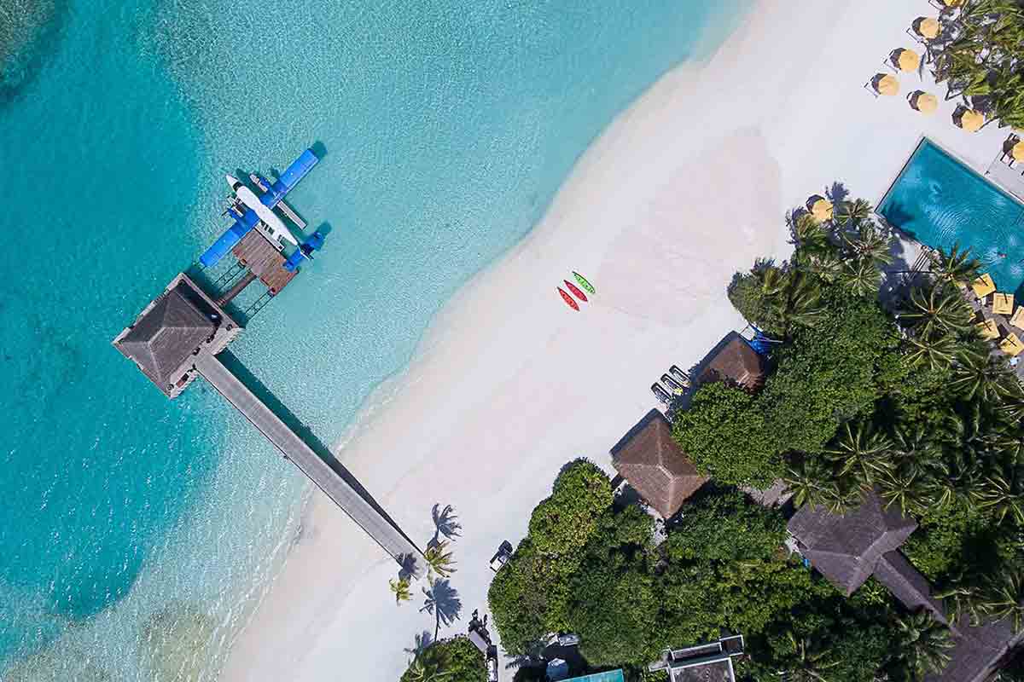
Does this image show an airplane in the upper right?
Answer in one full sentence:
No, no airplane can be made out in the upper right.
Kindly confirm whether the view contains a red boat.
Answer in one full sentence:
Yes, looking at the shot, I can spot a red boat.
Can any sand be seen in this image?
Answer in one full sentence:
Yes, there's sand in this view.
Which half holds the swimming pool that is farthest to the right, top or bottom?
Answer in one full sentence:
The top half of the photo is where the swimming pool that is farthest to the right is.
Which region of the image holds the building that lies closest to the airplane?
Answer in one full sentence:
The building that lies closest to the airplane appears toward the left of the photo.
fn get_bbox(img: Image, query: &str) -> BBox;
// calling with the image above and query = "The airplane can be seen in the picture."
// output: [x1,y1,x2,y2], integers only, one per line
[200,150,326,276]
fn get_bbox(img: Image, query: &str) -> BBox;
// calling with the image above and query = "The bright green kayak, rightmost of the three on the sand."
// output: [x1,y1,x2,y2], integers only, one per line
[573,272,595,293]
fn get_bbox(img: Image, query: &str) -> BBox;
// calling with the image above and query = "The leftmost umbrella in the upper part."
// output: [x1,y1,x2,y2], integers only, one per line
[812,200,832,221]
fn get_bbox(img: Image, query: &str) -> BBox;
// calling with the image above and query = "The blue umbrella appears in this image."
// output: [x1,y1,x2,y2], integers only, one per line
[546,657,570,682]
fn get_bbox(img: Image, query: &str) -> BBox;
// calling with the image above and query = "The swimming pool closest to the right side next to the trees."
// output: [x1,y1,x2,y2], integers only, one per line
[870,133,1024,305]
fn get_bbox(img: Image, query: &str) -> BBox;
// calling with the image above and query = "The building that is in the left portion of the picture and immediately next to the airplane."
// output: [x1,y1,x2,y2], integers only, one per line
[109,272,245,400]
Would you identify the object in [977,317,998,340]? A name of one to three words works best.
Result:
umbrella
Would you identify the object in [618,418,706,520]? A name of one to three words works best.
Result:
shed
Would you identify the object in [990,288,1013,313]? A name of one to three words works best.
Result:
umbrella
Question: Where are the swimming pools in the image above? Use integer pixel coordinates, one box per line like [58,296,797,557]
[557,668,625,682]
[870,133,1024,305]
